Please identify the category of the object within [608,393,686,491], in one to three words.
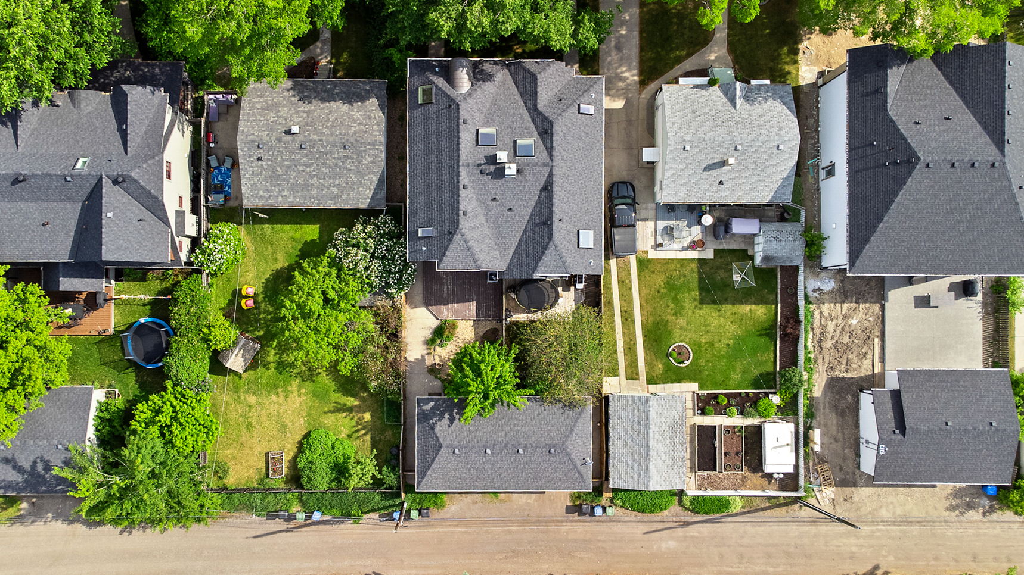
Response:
building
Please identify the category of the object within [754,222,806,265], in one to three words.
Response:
shed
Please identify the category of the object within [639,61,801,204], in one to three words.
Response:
house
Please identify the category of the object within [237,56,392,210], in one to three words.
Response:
house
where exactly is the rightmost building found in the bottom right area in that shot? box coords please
[860,368,1020,486]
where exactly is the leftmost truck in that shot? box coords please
[607,181,640,258]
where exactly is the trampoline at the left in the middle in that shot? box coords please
[116,317,171,368]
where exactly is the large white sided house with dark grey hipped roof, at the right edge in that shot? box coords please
[817,37,1024,276]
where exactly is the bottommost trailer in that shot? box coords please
[759,421,794,485]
